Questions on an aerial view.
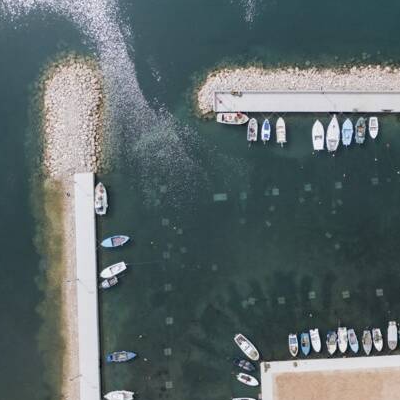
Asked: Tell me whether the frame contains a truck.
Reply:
No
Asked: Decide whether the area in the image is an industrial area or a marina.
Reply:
marina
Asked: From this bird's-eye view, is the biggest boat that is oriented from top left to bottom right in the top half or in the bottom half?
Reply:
bottom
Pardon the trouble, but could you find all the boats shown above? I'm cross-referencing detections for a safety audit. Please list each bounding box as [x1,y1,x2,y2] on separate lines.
[233,333,259,360]
[324,331,337,359]
[347,328,358,355]
[288,332,299,361]
[100,261,127,276]
[300,333,310,359]
[103,388,136,400]
[260,112,274,142]
[310,326,321,352]
[368,115,378,139]
[104,351,137,363]
[97,234,130,247]
[272,112,286,144]
[311,119,324,151]
[337,319,348,353]
[235,371,259,385]
[324,112,343,153]
[94,179,106,213]
[341,114,353,146]
[217,112,253,124]
[102,276,120,285]
[232,359,255,369]
[371,328,382,356]
[246,114,258,142]
[355,112,367,145]
[387,319,398,349]
[362,330,372,356]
